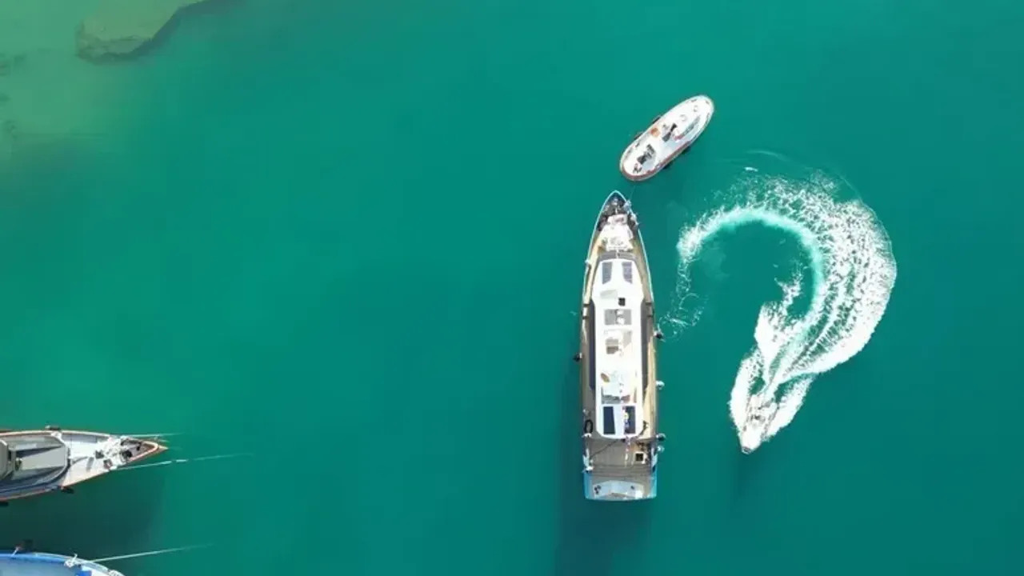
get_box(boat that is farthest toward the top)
[617,93,715,185]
